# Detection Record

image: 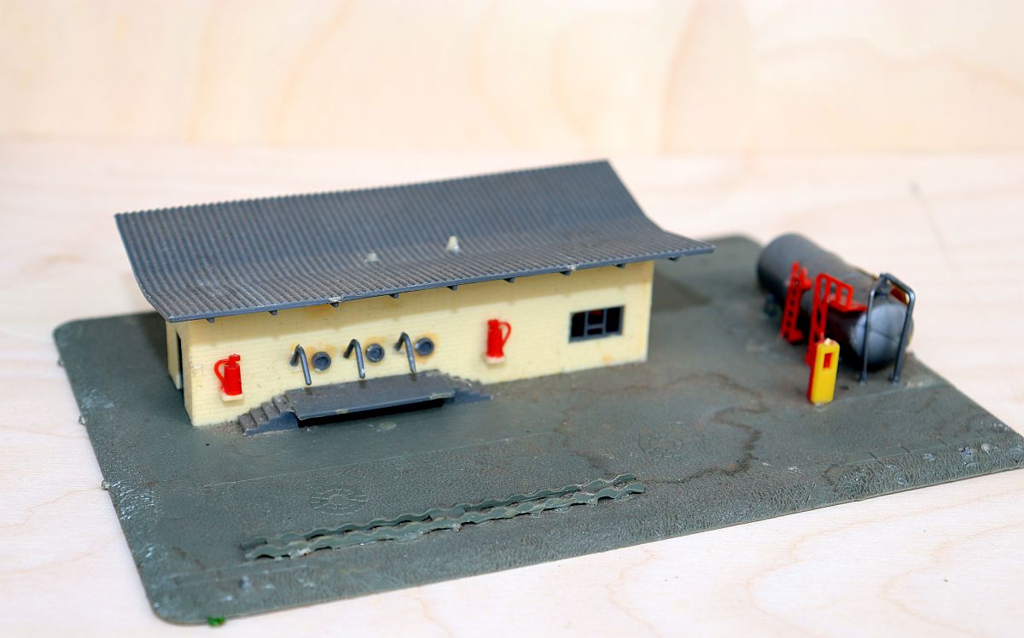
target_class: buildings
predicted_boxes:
[115,159,714,426]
